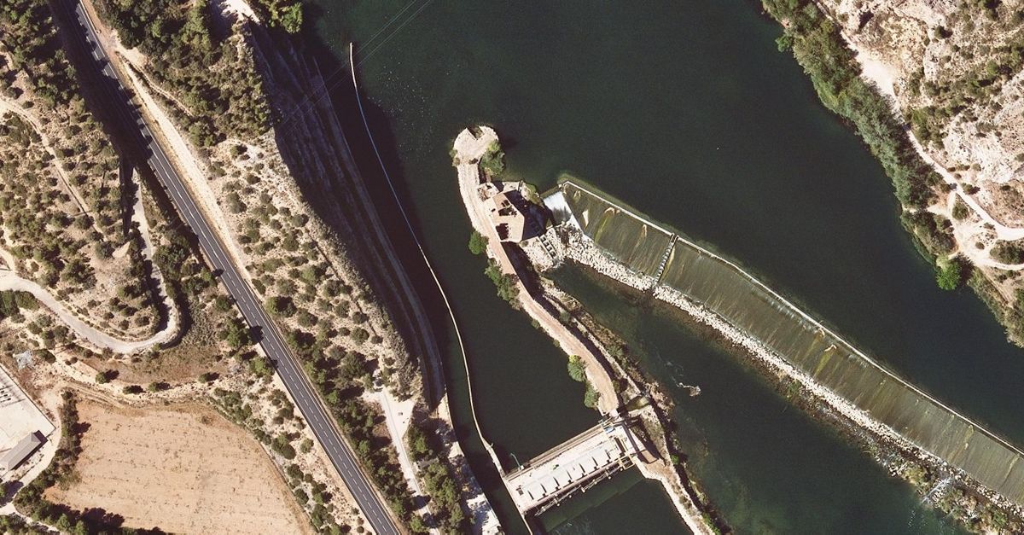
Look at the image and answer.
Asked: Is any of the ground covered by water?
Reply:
Yes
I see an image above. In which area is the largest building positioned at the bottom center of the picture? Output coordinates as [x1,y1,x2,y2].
[508,412,648,516]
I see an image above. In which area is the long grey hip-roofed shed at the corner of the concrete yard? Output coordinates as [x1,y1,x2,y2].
[0,432,41,470]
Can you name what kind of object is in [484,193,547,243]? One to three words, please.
building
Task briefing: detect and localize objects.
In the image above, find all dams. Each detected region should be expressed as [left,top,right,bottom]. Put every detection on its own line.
[557,181,1024,512]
